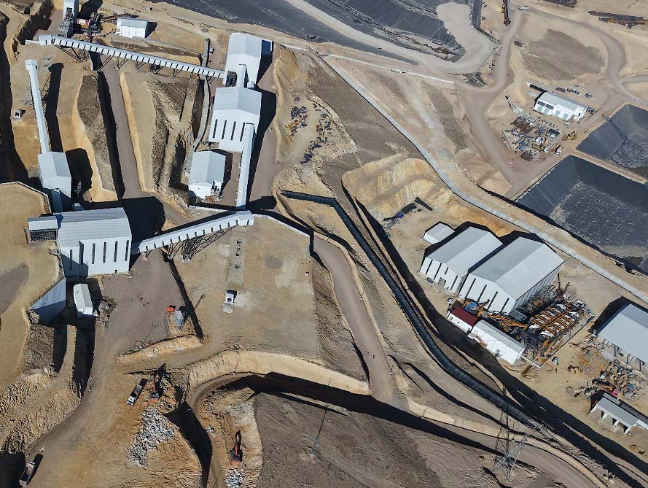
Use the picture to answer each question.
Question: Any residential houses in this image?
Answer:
Yes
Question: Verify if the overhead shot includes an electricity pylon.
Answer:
Yes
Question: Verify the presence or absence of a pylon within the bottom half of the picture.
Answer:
Yes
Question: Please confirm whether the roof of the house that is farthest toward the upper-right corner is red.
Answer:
No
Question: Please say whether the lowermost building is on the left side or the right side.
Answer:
right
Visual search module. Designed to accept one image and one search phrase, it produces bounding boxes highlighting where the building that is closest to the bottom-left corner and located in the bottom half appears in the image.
[72,285,93,318]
